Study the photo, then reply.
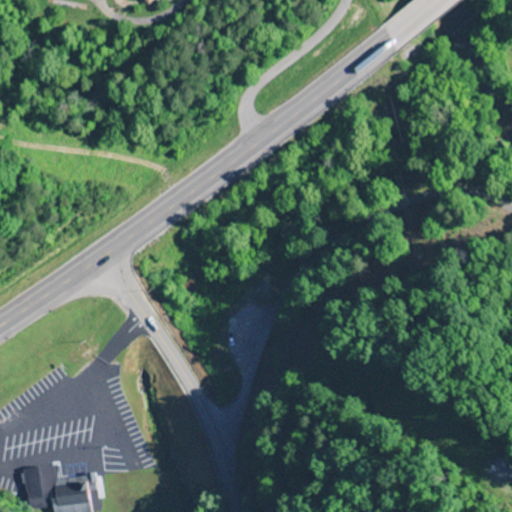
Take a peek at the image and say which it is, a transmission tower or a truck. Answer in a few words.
truck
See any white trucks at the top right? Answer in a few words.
Yes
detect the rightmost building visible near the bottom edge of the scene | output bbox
[54,482,92,512]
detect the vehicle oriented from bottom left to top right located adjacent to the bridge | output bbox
[355,37,398,72]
